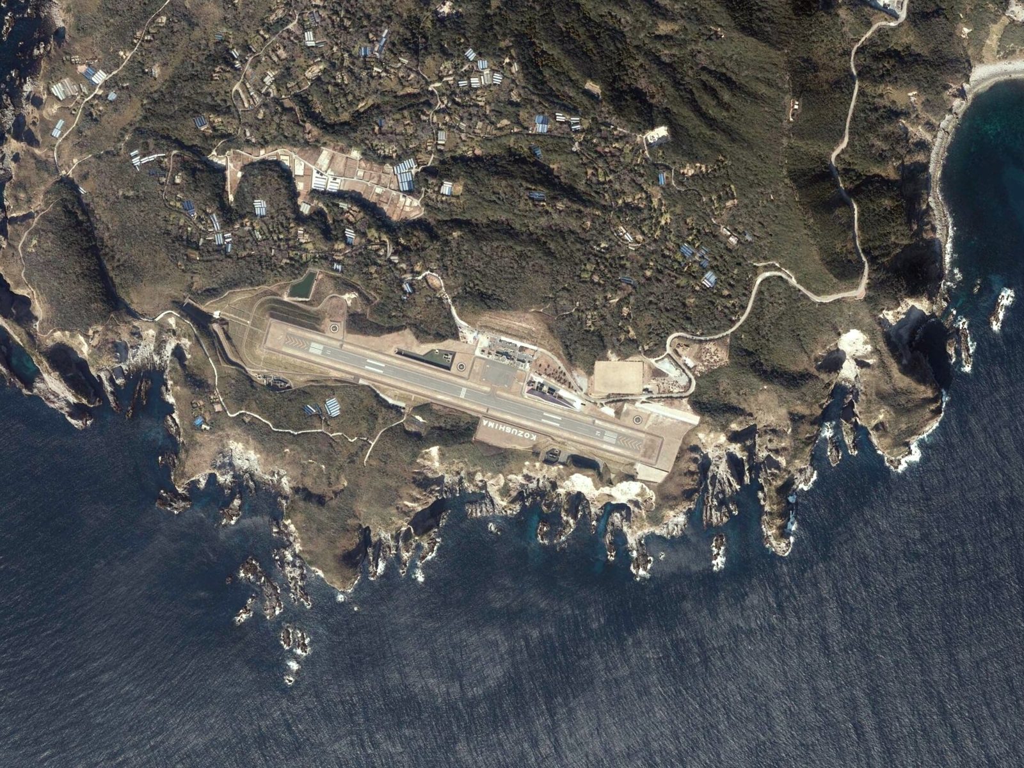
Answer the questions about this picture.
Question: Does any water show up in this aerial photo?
Yes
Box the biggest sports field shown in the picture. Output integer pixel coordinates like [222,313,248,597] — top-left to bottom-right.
[595,361,643,394]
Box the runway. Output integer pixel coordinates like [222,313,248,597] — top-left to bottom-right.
[284,332,642,453]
